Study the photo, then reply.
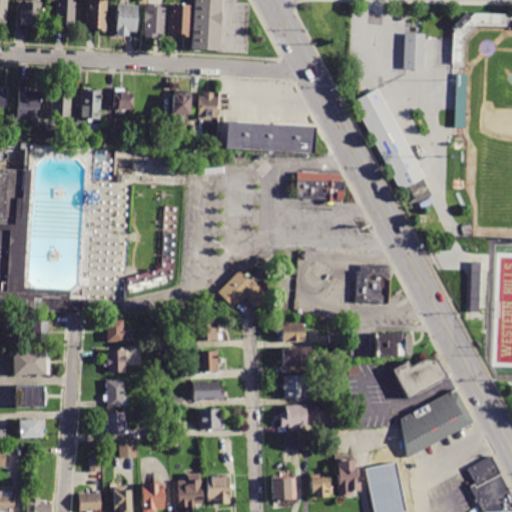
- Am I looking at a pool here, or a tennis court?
pool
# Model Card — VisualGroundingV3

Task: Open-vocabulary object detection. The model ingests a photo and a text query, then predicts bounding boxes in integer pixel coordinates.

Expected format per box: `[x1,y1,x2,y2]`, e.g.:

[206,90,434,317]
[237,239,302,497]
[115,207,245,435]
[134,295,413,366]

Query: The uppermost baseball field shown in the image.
[463,28,512,236]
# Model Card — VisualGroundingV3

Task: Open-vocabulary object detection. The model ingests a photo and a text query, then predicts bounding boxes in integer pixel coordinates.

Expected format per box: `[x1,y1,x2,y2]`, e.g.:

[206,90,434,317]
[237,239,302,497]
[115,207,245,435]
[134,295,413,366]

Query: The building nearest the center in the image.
[218,272,263,305]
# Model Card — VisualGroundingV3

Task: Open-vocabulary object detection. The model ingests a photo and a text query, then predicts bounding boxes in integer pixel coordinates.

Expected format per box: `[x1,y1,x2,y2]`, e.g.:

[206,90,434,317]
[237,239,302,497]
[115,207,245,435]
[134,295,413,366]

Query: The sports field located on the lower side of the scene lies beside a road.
[486,240,512,382]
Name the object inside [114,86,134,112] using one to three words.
house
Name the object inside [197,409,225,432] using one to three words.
house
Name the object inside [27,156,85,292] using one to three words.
swimming pool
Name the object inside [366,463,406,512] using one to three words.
building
